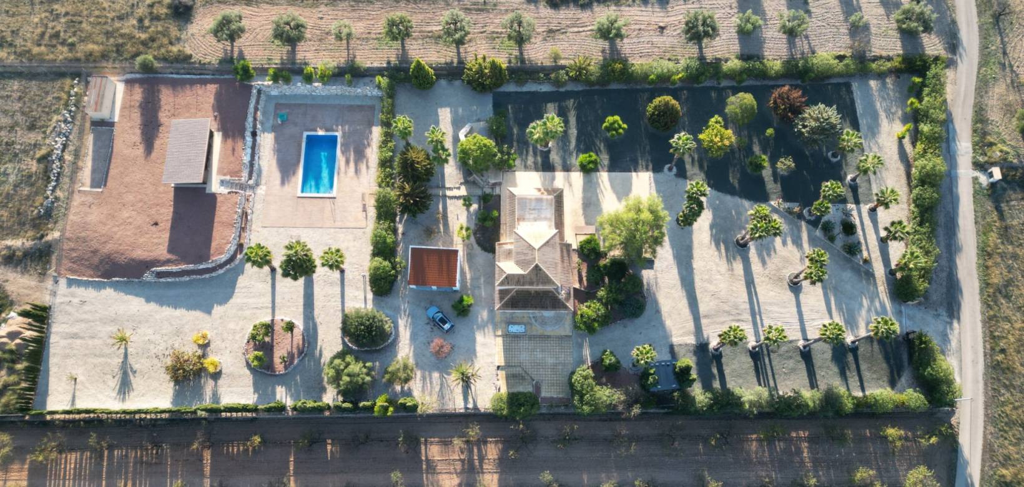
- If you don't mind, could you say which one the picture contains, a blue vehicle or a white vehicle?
blue vehicle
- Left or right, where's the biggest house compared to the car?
right of it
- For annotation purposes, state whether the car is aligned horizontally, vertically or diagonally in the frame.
diagonally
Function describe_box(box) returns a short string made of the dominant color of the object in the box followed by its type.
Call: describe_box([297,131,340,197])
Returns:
blue swimming pool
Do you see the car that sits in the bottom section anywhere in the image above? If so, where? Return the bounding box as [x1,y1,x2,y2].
[425,303,456,334]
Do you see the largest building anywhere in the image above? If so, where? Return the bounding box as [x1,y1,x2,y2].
[495,186,573,315]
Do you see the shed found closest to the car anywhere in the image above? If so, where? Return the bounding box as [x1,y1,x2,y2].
[407,245,462,293]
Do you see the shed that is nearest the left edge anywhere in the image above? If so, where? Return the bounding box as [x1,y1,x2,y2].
[86,75,119,124]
